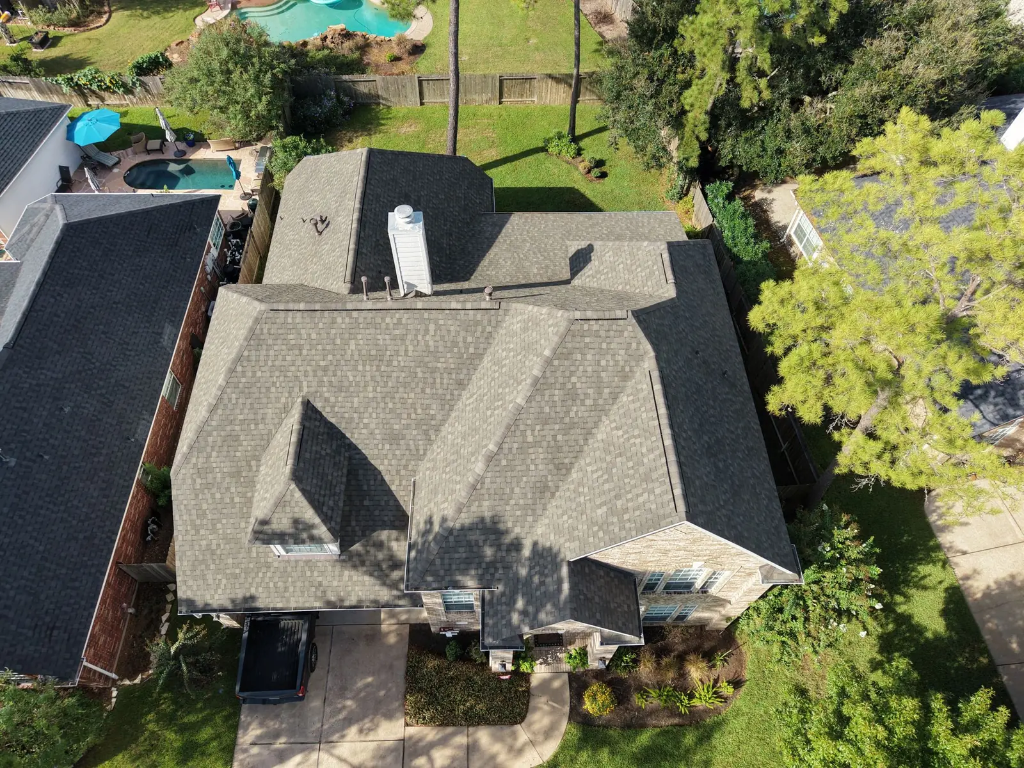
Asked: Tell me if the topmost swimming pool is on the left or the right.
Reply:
left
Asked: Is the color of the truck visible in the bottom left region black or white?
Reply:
black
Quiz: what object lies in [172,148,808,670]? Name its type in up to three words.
house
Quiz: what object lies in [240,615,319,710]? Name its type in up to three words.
truck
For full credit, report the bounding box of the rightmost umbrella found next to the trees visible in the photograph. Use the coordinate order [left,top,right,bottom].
[227,156,243,201]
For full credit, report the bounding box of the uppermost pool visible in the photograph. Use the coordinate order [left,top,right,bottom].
[232,0,417,42]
